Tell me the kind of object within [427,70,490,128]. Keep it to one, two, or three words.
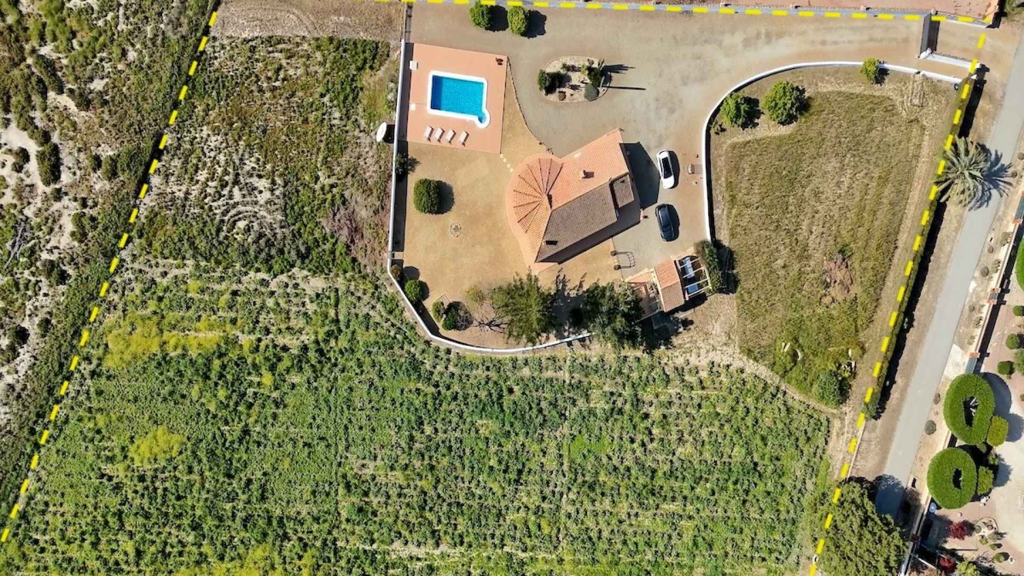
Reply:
swimming pool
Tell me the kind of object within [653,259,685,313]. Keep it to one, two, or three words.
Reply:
building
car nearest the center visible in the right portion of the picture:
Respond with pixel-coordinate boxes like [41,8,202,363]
[654,203,676,243]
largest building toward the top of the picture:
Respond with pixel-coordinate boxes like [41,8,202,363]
[513,127,635,263]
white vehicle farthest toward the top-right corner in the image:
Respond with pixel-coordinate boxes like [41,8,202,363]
[655,150,677,190]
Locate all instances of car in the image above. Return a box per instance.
[654,203,676,243]
[655,150,677,190]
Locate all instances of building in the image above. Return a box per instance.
[513,127,635,263]
[653,259,685,313]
